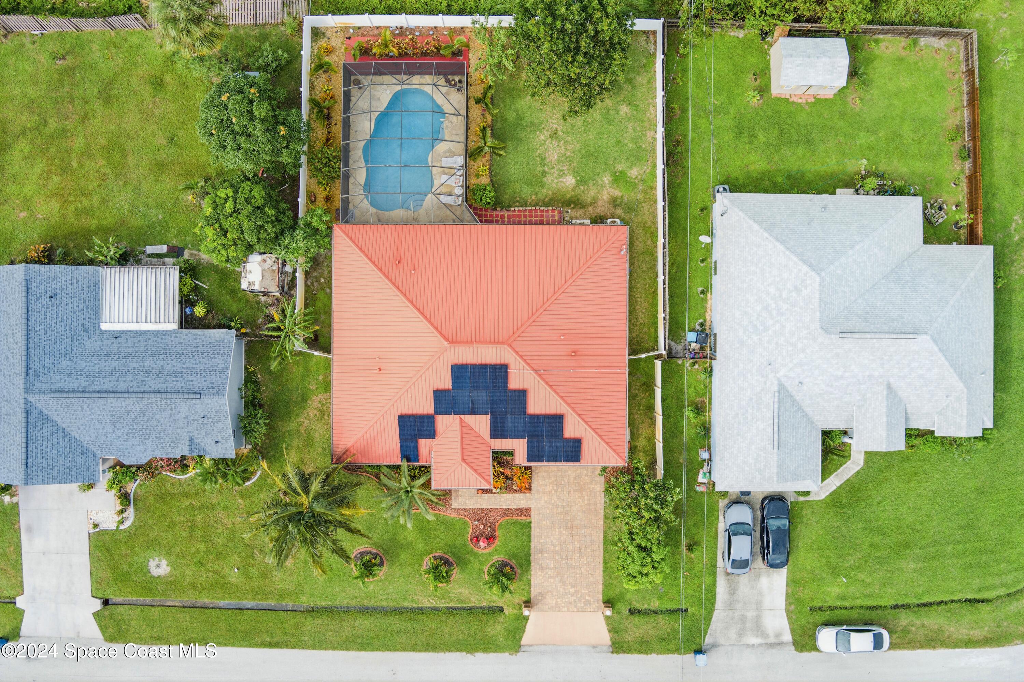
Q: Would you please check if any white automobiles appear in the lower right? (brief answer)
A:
Yes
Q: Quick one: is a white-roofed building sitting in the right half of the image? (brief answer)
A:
Yes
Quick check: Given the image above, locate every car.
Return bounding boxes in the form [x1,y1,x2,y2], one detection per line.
[759,494,795,569]
[722,500,758,574]
[816,621,892,658]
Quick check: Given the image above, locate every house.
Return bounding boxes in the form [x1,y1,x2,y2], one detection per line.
[706,192,994,491]
[0,262,244,488]
[330,223,633,491]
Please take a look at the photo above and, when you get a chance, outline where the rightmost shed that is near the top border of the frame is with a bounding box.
[771,33,854,95]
